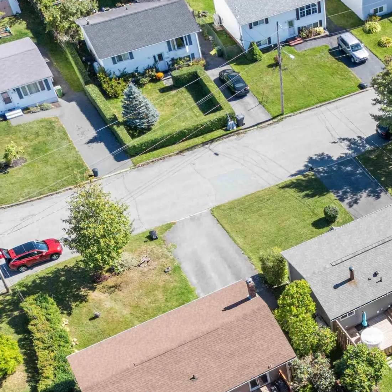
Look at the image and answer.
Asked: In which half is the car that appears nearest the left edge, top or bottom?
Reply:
bottom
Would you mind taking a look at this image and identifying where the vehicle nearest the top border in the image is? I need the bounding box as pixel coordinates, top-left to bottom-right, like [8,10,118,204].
[336,30,370,62]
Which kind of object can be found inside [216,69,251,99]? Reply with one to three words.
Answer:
car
